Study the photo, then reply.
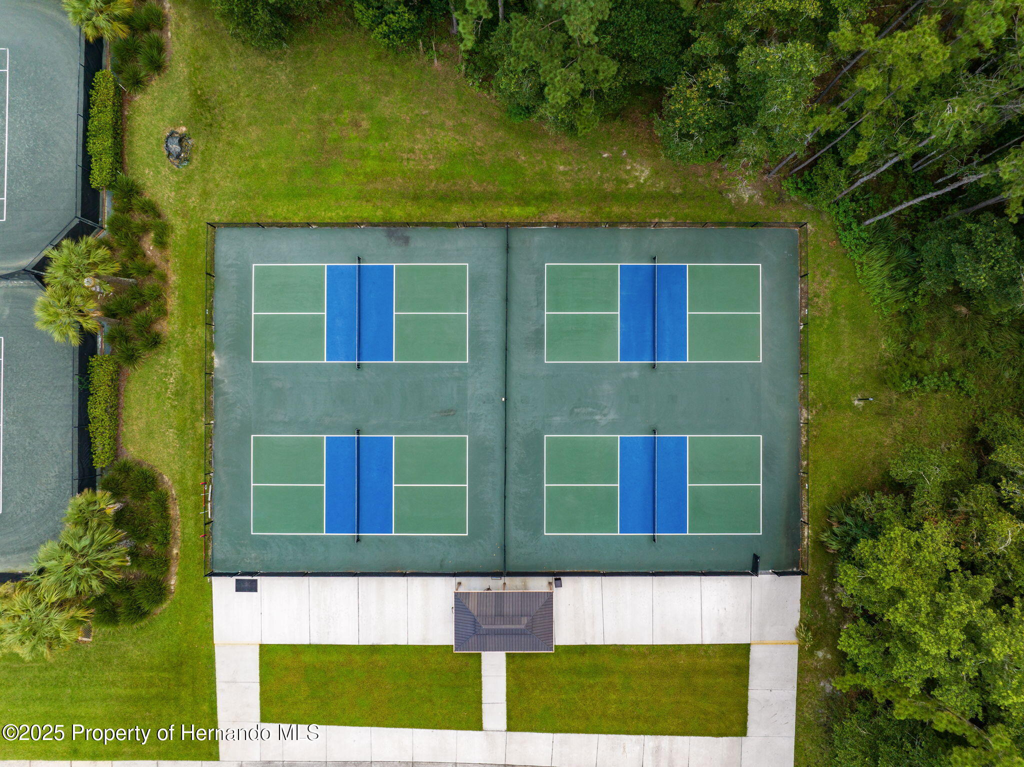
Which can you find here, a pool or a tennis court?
tennis court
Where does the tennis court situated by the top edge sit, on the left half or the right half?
left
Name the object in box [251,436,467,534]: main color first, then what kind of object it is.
green sports court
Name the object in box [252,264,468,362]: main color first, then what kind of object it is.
green sports court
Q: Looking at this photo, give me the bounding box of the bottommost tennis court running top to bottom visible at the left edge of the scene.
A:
[0,278,99,572]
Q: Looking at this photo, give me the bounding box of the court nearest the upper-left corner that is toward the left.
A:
[0,0,105,273]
